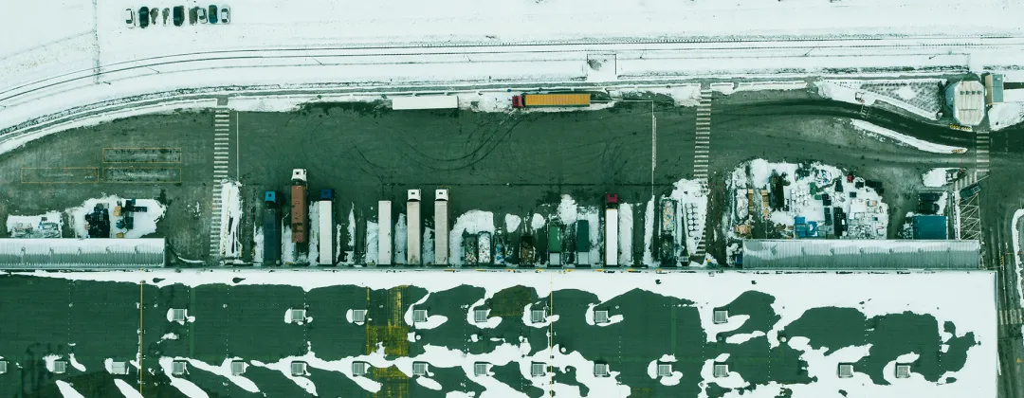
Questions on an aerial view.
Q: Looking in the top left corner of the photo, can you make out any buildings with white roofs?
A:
No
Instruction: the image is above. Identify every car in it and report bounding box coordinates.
[956,183,981,198]
[916,192,939,202]
[198,7,209,25]
[915,203,939,213]
[174,7,184,26]
[140,8,151,28]
[208,5,219,24]
[221,6,232,25]
[126,8,137,29]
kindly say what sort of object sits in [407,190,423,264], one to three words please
vehicle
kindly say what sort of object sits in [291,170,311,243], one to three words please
vehicle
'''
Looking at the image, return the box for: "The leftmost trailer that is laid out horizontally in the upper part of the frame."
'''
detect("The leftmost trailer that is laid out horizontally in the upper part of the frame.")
[393,96,460,112]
